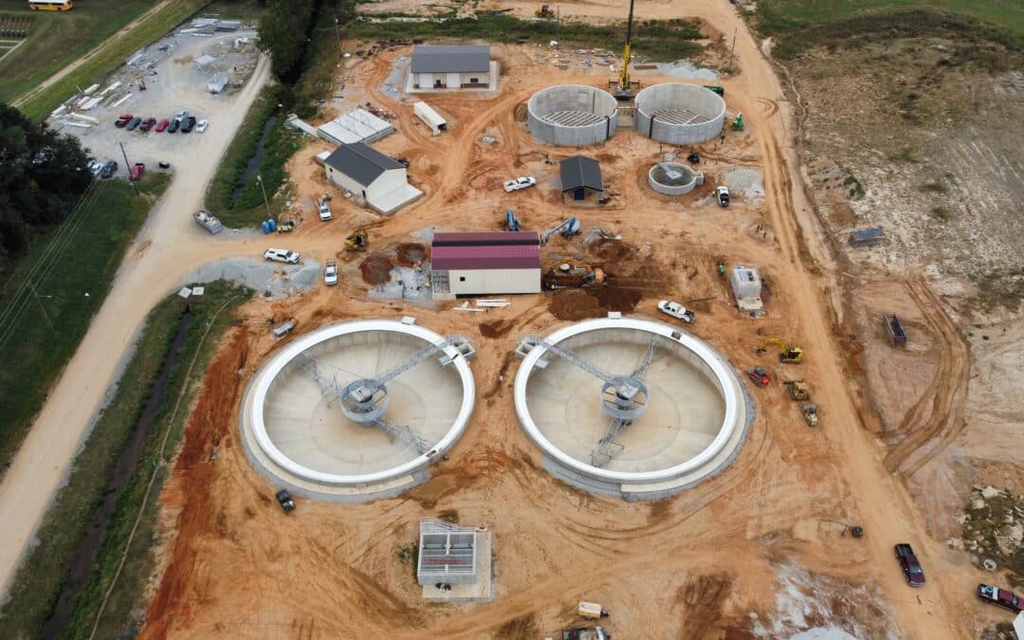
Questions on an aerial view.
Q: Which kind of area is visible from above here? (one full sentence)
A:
What you see here is an industrial area.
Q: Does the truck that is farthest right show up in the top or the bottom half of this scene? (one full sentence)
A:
The truck that is farthest right is in the bottom half of the image.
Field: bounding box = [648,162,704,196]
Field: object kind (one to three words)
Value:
storage tank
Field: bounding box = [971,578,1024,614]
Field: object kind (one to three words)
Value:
truck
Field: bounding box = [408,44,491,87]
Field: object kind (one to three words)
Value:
building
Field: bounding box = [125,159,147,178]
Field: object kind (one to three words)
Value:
vehicle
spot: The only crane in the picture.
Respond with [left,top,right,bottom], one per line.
[604,0,639,107]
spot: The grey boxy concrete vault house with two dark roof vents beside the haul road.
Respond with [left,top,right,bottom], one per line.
[731,262,761,300]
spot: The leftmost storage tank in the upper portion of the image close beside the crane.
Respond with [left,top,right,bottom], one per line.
[528,84,617,146]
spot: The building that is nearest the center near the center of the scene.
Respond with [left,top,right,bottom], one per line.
[429,231,545,300]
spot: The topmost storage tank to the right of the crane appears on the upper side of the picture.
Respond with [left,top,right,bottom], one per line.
[633,83,726,145]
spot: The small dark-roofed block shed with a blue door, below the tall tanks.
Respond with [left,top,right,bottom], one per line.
[560,153,604,209]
